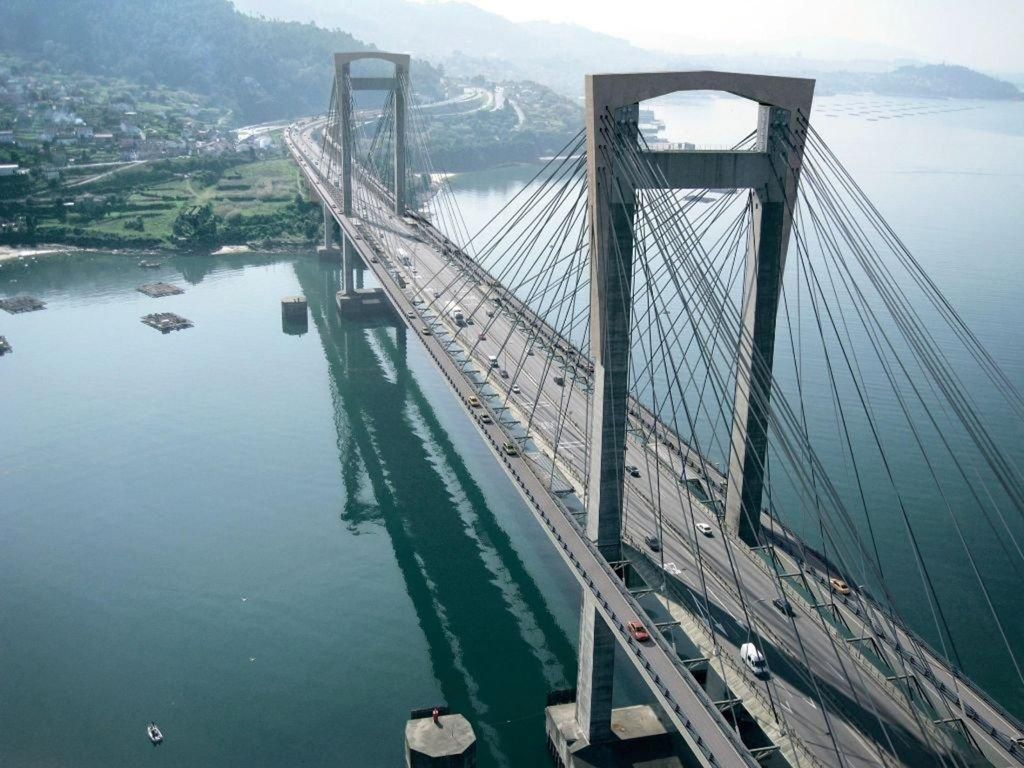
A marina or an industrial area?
marina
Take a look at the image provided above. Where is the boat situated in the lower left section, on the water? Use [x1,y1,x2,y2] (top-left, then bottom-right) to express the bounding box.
[146,720,161,741]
